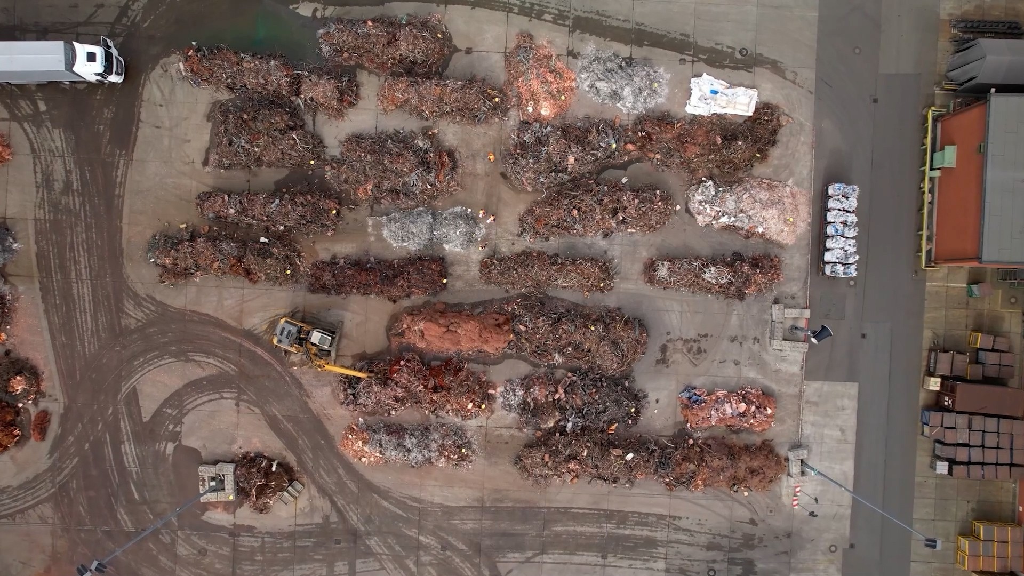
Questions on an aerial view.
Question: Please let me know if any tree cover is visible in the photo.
No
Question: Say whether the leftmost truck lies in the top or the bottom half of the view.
top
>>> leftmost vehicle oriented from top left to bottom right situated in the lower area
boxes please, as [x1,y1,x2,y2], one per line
[271,313,381,386]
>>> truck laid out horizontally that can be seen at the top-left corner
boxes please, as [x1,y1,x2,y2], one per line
[0,36,125,83]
